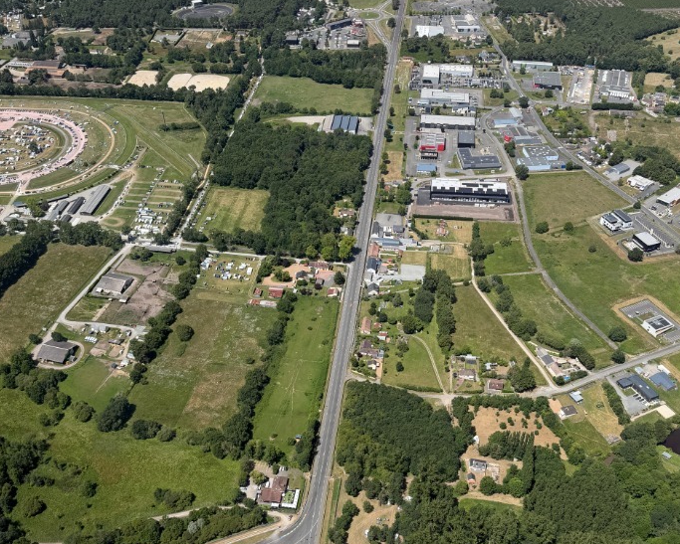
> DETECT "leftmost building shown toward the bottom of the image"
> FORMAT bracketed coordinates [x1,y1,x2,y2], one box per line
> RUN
[36,340,78,366]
